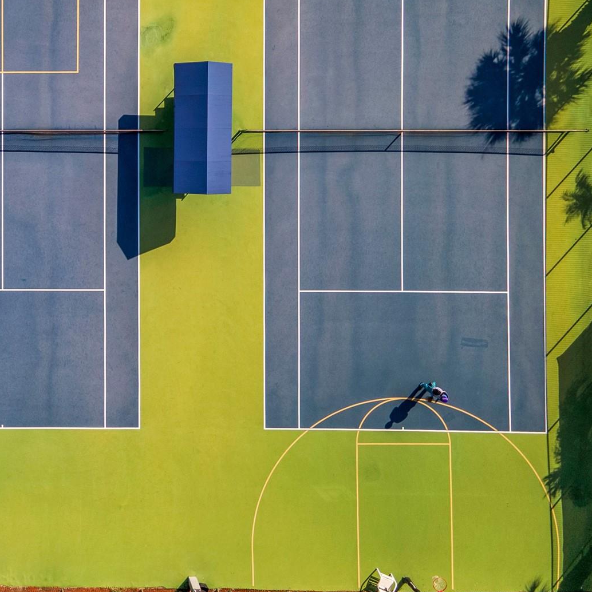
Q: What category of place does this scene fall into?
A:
sports ground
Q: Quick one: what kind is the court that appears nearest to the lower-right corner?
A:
basketball court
